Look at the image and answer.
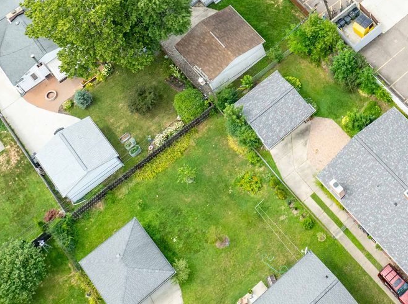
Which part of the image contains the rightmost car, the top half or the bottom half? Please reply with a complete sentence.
The rightmost car sits in the bottom half of the picture.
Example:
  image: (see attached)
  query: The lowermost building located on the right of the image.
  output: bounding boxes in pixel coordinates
[259,250,364,304]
